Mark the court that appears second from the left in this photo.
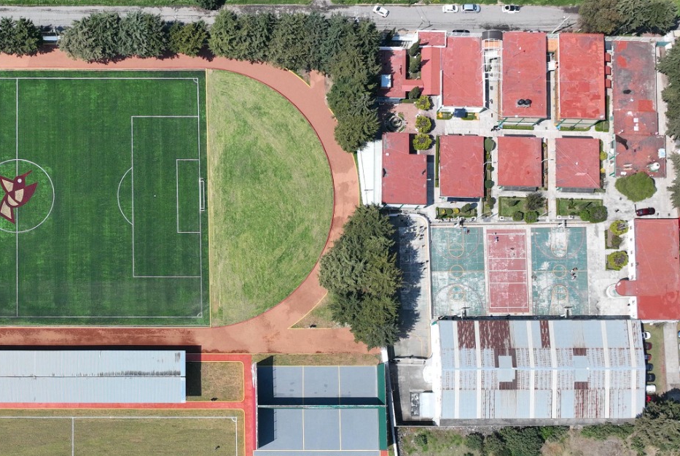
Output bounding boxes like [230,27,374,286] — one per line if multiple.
[433,227,485,316]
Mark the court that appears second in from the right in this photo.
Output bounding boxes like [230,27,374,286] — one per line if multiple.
[486,229,529,312]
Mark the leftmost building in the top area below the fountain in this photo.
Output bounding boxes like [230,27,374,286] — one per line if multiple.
[380,133,427,209]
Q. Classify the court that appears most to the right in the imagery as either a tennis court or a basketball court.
basketball court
